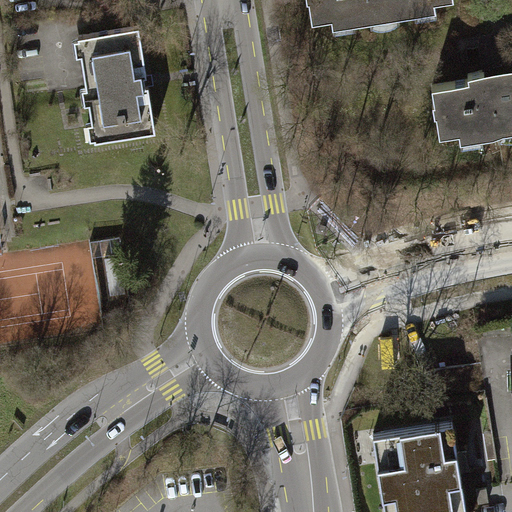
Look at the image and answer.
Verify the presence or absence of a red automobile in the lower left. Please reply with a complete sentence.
No, there's no red automobile to be seen in the lower left.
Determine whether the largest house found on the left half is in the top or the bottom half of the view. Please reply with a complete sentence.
Seen from above, the largest house found on the left half lies in the top half of the view.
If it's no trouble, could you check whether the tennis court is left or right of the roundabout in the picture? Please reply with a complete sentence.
Looking at the photo, the tennis court lies to the left of the roundabout.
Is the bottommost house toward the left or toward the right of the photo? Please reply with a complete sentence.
The bottommost house sits on the right side.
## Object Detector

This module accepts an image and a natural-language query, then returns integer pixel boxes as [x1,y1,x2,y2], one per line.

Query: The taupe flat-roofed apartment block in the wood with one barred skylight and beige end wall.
[430,65,512,154]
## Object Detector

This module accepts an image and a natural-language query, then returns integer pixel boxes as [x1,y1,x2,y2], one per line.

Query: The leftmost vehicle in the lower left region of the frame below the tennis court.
[66,414,89,433]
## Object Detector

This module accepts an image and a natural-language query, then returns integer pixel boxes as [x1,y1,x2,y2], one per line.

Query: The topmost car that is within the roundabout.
[277,262,300,277]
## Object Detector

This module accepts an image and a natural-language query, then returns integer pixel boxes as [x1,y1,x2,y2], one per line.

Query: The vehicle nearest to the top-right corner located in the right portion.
[450,215,482,230]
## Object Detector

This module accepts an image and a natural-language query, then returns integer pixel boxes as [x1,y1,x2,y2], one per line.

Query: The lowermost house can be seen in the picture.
[372,420,465,512]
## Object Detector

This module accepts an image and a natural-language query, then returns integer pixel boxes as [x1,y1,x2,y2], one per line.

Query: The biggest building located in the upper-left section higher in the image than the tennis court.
[74,27,156,146]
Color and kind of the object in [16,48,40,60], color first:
white vehicle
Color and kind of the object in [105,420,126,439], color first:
white car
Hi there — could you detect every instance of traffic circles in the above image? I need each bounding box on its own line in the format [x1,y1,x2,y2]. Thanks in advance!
[185,241,343,400]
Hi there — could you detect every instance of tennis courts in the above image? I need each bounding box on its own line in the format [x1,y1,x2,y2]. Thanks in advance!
[0,240,102,344]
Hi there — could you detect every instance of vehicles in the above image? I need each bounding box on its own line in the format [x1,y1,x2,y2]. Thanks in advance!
[66,414,89,433]
[216,470,226,491]
[18,28,39,39]
[482,504,504,512]
[204,473,214,488]
[105,420,126,439]
[240,0,250,14]
[190,474,202,498]
[450,215,482,230]
[310,380,320,404]
[16,48,40,60]
[264,166,276,190]
[14,1,36,12]
[272,436,292,464]
[178,477,188,496]
[406,324,426,361]
[277,262,300,277]
[428,230,438,250]
[322,306,332,330]
[164,478,176,499]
